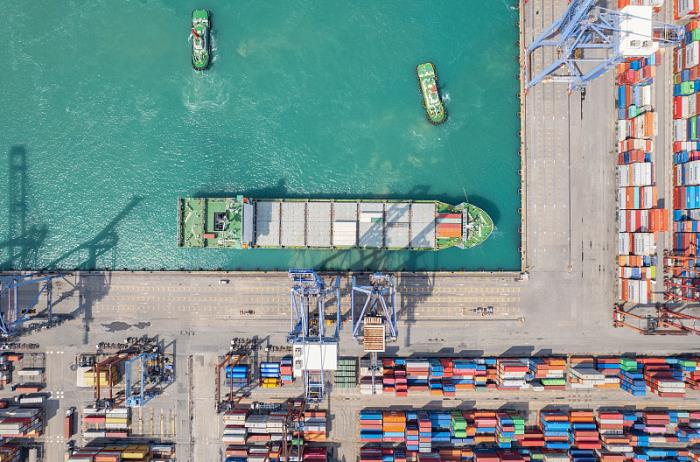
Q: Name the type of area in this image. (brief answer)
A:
port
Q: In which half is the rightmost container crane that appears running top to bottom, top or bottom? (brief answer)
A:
bottom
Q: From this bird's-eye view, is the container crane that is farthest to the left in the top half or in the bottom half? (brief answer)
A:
bottom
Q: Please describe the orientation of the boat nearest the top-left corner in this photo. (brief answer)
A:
up and down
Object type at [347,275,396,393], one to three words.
container crane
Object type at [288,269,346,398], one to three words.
container crane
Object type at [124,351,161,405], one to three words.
crane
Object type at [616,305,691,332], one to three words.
crane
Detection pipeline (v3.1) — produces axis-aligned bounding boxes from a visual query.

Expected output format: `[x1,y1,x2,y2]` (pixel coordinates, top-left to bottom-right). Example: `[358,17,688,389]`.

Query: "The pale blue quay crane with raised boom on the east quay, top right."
[525,0,673,97]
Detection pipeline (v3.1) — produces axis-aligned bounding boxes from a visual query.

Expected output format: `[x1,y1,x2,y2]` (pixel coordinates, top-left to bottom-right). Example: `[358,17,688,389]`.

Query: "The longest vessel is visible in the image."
[177,184,494,249]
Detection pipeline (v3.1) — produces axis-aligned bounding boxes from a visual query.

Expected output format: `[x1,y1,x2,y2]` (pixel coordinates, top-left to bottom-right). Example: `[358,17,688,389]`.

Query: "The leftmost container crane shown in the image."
[0,275,68,367]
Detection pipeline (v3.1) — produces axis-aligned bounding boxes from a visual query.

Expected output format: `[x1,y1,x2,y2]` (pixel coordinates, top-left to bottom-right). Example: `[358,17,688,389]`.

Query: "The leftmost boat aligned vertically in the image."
[191,10,211,72]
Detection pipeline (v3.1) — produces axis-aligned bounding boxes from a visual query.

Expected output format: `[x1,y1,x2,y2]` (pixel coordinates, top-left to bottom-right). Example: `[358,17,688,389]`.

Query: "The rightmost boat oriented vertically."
[417,64,446,126]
